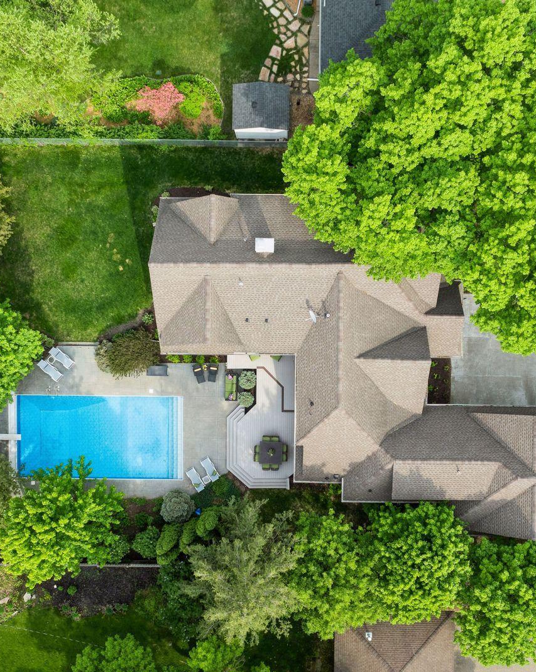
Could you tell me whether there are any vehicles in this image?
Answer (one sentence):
No, there is no vehicle in the image.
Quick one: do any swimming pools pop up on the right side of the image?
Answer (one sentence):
No, looking on the right side of the image, there is no swimming pool.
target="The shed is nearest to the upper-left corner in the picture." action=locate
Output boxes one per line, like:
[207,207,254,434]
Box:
[232,82,290,139]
